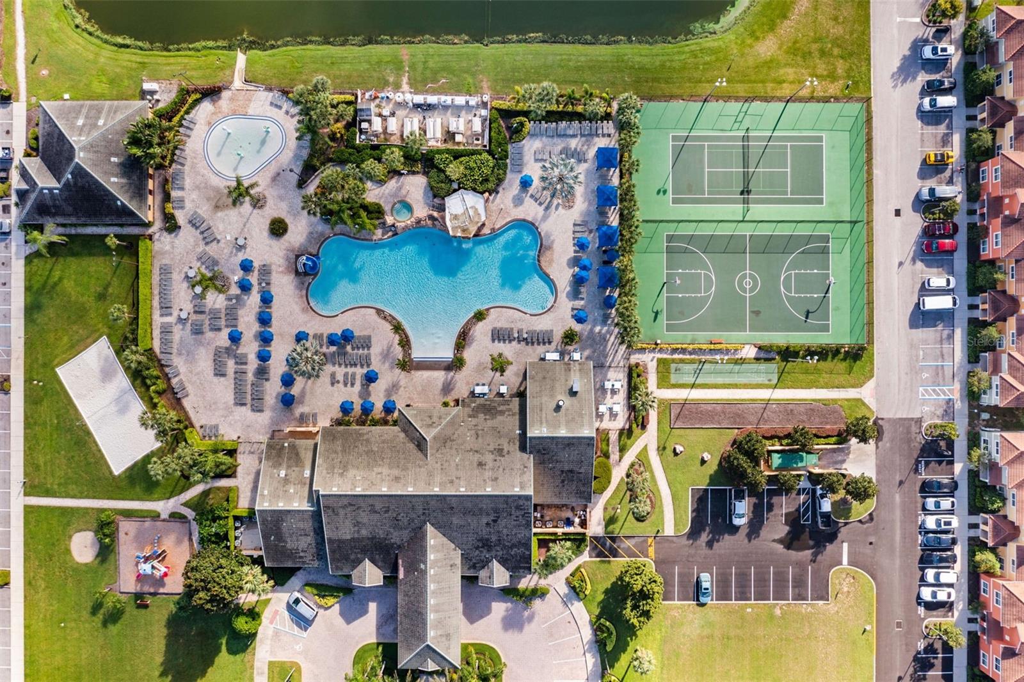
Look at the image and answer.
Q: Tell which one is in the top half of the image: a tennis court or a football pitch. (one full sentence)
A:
The feature located in the top half of the image is a tennis court.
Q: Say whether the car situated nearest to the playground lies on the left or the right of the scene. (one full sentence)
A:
The car situated nearest to the playground sits on the left side.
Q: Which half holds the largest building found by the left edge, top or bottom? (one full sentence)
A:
The largest building found by the left edge is in the top half of the image.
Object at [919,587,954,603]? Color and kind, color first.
white car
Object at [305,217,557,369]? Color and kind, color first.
blue swimming pool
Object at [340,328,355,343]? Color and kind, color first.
blue umbrella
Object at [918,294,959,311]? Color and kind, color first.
white vehicle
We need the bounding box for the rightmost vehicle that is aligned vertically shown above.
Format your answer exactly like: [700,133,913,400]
[815,490,832,530]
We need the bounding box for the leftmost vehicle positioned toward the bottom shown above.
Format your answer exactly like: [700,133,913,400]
[288,591,317,621]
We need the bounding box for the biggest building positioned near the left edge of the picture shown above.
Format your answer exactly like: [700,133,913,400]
[5,101,155,223]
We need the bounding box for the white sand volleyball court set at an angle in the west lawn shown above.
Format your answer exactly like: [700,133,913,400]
[55,337,161,475]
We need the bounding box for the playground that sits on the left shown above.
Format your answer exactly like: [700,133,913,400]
[116,519,191,595]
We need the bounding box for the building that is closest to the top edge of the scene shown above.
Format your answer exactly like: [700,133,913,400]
[977,5,1024,73]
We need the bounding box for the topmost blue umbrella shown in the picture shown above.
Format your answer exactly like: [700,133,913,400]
[519,174,533,188]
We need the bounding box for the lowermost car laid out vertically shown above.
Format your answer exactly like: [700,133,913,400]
[697,572,712,604]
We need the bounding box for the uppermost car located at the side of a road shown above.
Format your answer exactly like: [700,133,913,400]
[920,44,955,60]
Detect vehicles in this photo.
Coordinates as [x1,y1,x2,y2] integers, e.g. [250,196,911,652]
[923,515,958,531]
[923,569,957,585]
[919,587,954,603]
[920,95,956,111]
[924,150,955,165]
[923,275,955,290]
[732,486,748,524]
[923,77,956,93]
[918,294,959,311]
[923,497,956,512]
[288,591,317,621]
[921,239,957,254]
[921,185,956,200]
[815,490,832,530]
[923,221,957,237]
[923,534,957,549]
[697,572,712,604]
[923,479,957,494]
[921,552,956,567]
[920,44,955,60]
